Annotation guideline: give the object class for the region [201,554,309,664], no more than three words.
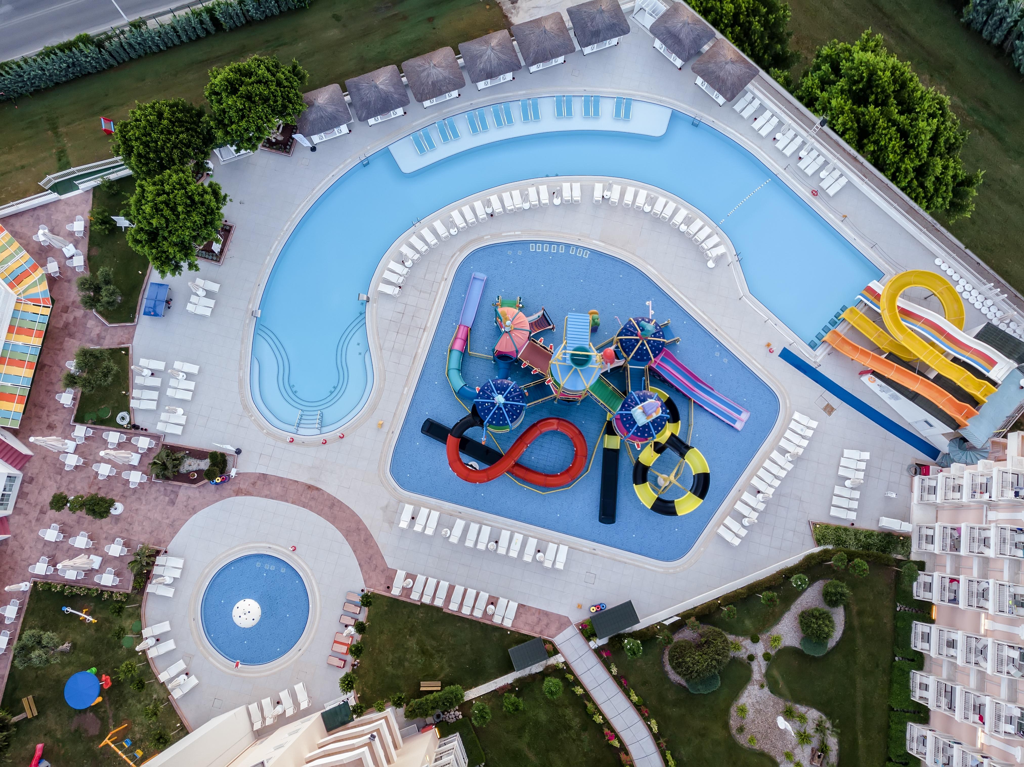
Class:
swimming pool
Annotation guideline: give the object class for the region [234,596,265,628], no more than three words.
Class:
fountain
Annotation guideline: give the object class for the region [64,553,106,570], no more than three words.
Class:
umbrella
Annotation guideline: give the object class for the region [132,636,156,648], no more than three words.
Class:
umbrella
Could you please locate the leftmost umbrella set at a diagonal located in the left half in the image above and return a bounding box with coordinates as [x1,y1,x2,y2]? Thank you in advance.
[38,231,75,259]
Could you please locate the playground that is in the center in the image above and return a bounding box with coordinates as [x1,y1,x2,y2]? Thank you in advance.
[425,270,752,522]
